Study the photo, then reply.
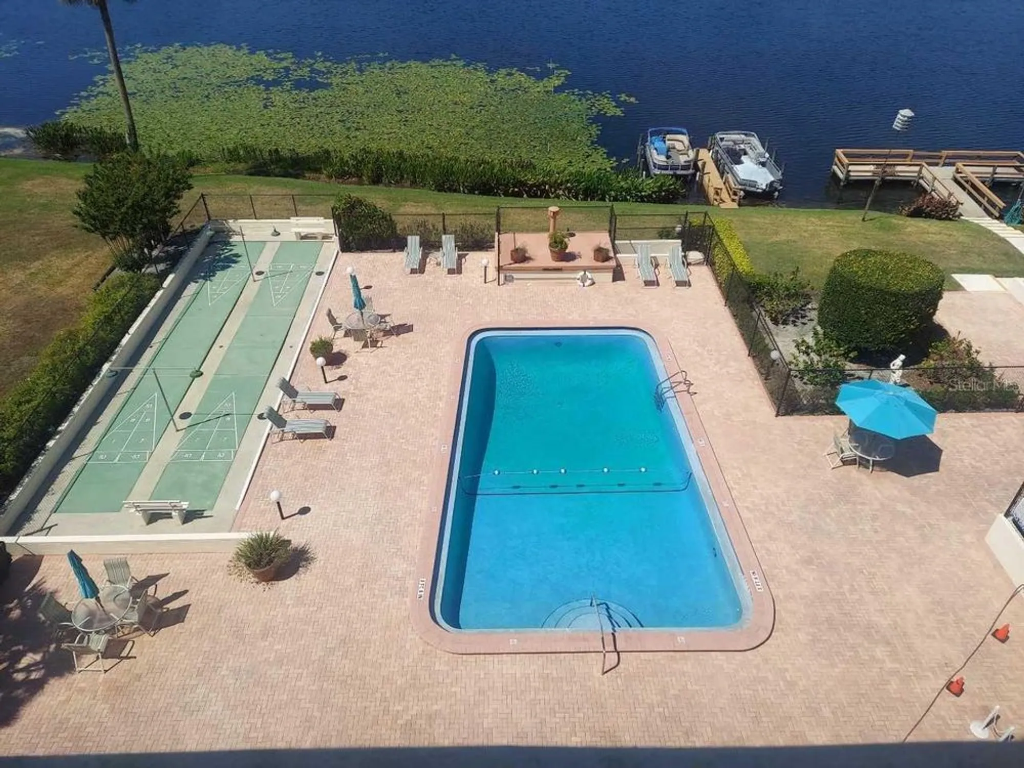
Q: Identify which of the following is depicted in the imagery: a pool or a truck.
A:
pool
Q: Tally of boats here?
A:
2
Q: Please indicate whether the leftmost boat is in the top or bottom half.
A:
top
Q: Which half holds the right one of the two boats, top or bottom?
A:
top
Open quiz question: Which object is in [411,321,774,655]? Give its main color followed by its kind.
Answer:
blue swimming pool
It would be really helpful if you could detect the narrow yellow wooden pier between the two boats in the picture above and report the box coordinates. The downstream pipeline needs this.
[691,145,739,205]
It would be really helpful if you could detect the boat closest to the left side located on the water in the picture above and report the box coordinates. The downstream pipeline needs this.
[643,120,697,180]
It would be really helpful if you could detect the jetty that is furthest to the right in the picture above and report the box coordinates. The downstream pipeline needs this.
[826,147,1024,227]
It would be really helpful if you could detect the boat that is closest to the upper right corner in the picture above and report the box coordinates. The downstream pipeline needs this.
[700,130,788,196]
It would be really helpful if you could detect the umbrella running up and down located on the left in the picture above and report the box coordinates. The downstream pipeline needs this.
[350,272,369,330]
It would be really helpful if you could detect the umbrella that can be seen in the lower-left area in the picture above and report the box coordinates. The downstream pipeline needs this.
[62,549,124,637]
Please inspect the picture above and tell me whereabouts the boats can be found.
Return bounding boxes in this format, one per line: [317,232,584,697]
[700,130,788,196]
[643,120,697,180]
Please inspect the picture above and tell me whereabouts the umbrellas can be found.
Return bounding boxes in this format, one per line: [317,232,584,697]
[62,549,124,637]
[350,272,369,330]
[833,378,939,468]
